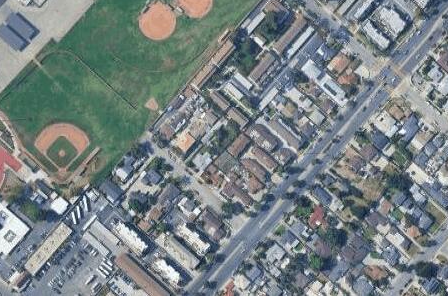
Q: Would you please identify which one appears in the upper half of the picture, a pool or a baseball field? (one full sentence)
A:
Looking in the upper half of the picture, you will find a baseball field.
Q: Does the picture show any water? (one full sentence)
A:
No, water can't be seen anywhere here.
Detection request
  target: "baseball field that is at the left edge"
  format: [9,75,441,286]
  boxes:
[18,123,101,186]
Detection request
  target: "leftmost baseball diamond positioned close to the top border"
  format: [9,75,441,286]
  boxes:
[138,2,177,42]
